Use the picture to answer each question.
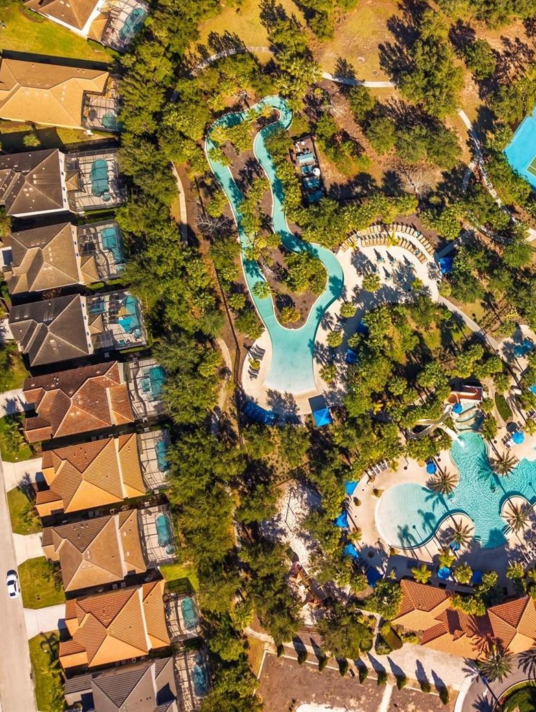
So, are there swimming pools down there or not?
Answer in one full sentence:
Yes, the frame does contain a swimming pool.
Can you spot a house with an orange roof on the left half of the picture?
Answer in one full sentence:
Yes, I can see a house with an orange roof on the left half of the picture.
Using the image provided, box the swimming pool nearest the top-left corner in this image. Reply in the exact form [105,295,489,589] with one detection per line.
[123,10,145,35]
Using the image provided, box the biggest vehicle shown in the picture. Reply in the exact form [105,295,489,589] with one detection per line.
[6,573,19,596]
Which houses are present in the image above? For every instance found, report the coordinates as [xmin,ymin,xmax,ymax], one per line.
[35,434,149,517]
[63,655,188,712]
[9,294,101,367]
[23,360,138,443]
[0,148,76,219]
[59,579,174,668]
[4,222,89,294]
[24,0,118,35]
[42,509,150,592]
[0,58,113,131]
